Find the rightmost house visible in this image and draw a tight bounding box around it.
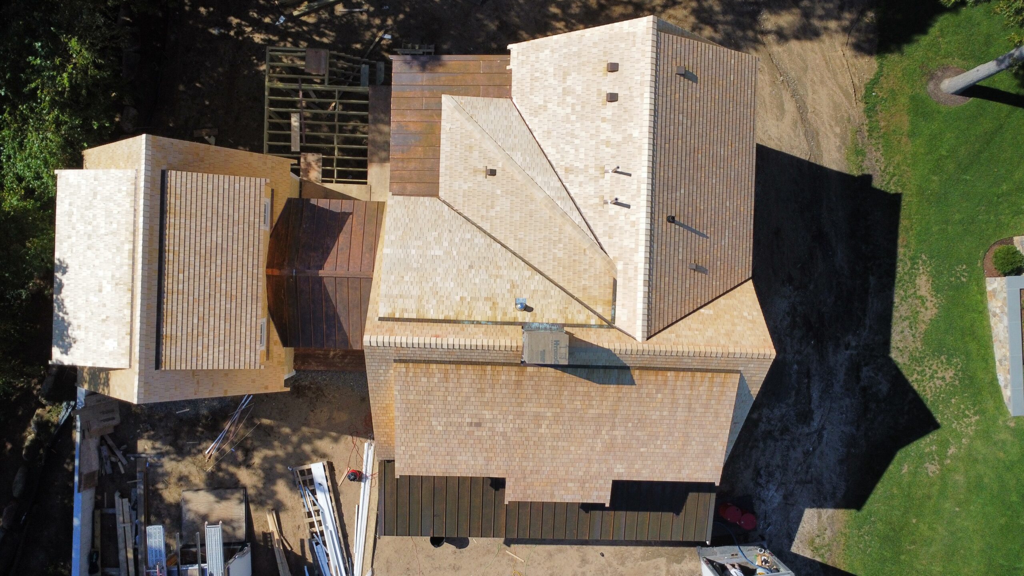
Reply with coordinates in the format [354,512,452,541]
[364,16,776,546]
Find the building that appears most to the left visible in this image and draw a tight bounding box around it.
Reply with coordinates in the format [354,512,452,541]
[46,135,302,402]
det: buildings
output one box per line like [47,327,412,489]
[364,16,776,546]
[46,135,302,402]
